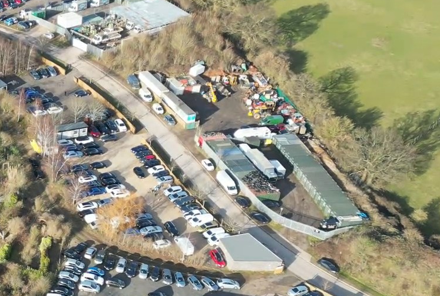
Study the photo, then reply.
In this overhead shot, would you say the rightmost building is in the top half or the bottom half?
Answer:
bottom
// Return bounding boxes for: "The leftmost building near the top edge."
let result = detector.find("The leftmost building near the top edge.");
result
[57,11,82,30]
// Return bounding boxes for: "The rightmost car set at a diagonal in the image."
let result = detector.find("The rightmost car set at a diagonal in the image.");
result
[316,256,343,276]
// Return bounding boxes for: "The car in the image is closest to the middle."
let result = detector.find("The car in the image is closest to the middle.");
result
[201,159,214,172]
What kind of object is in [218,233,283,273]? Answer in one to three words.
building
